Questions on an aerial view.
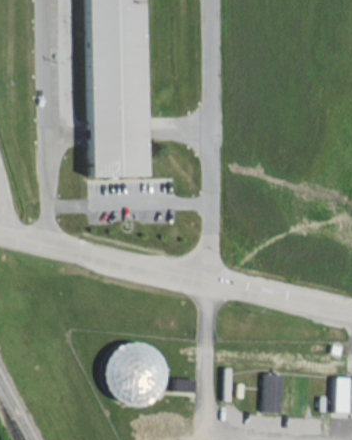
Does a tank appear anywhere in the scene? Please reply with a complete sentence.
Yes, you can see a tank in this photo.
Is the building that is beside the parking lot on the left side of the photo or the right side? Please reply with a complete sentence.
The building that is beside the parking lot appears in the left half of the scene.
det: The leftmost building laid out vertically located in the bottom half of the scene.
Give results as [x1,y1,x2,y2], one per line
[222,367,234,402]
